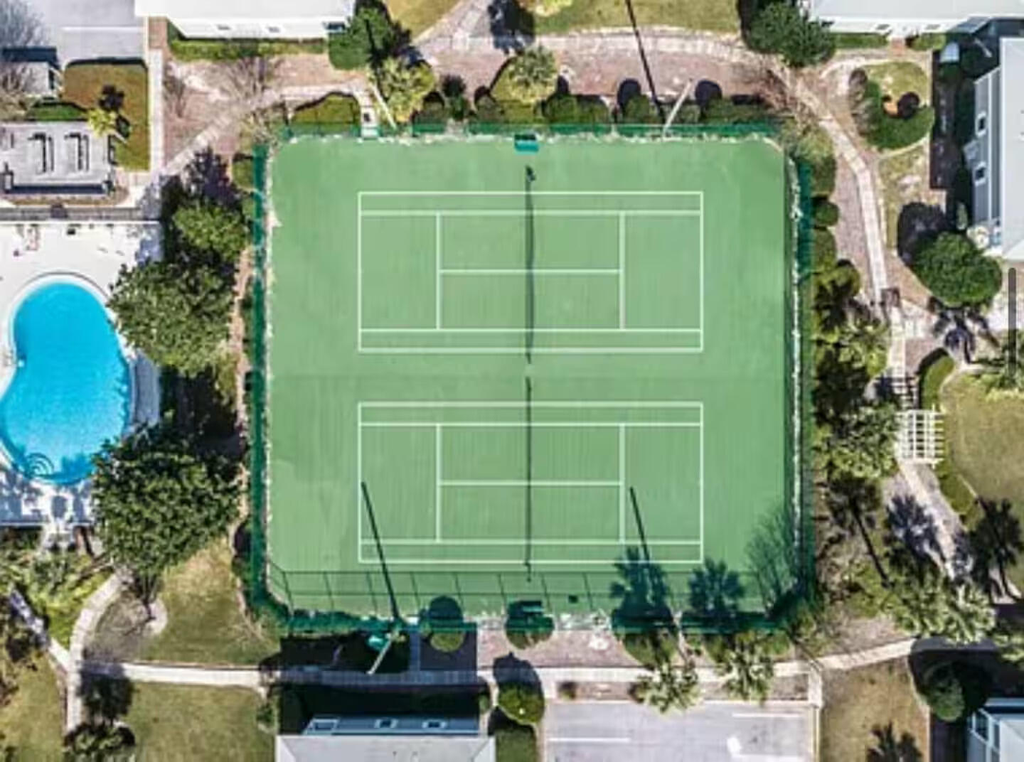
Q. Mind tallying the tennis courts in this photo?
2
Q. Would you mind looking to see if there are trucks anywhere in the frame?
No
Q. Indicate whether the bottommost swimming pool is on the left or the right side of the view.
left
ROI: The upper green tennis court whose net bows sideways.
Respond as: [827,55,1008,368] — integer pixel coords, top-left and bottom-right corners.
[269,138,795,377]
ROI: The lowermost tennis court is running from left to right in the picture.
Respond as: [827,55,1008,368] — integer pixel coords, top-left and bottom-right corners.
[269,377,796,615]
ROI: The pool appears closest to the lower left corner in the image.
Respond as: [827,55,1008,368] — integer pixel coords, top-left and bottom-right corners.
[0,276,138,493]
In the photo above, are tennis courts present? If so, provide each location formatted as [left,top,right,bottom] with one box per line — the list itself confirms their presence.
[269,138,795,377]
[269,377,796,615]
